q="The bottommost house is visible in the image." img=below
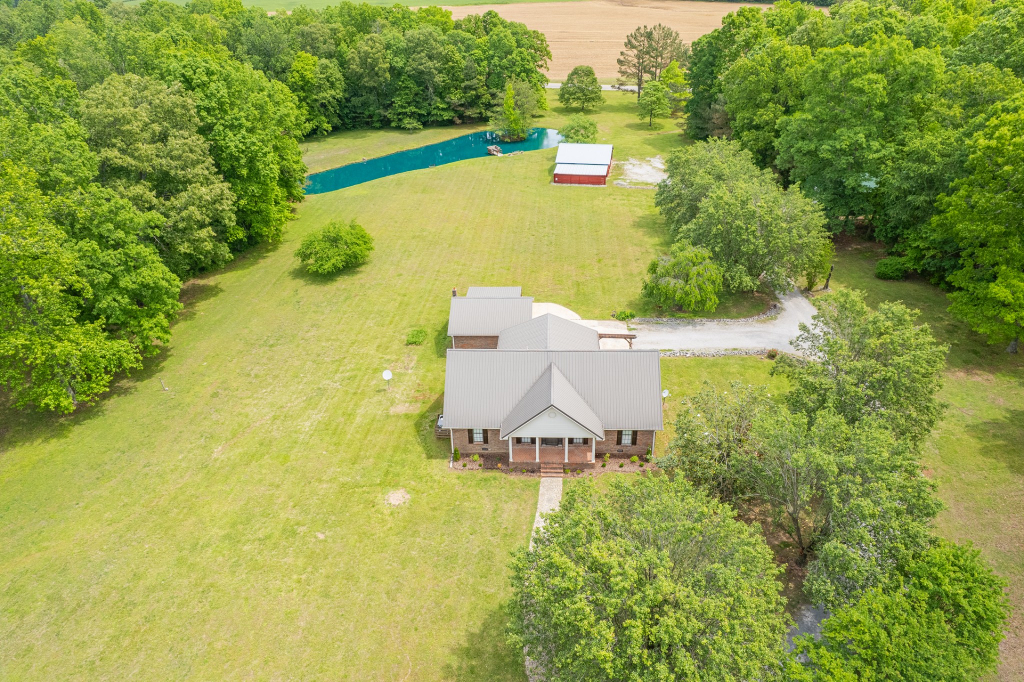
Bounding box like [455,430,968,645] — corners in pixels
[442,284,664,478]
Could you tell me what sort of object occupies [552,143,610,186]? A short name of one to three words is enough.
barn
